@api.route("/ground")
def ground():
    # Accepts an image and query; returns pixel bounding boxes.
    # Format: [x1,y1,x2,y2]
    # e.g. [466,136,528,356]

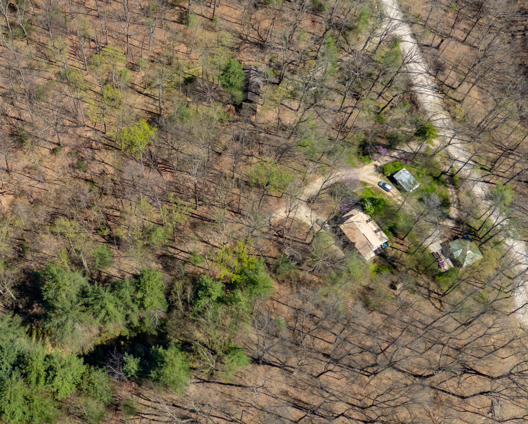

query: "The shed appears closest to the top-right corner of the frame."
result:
[390,167,420,194]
